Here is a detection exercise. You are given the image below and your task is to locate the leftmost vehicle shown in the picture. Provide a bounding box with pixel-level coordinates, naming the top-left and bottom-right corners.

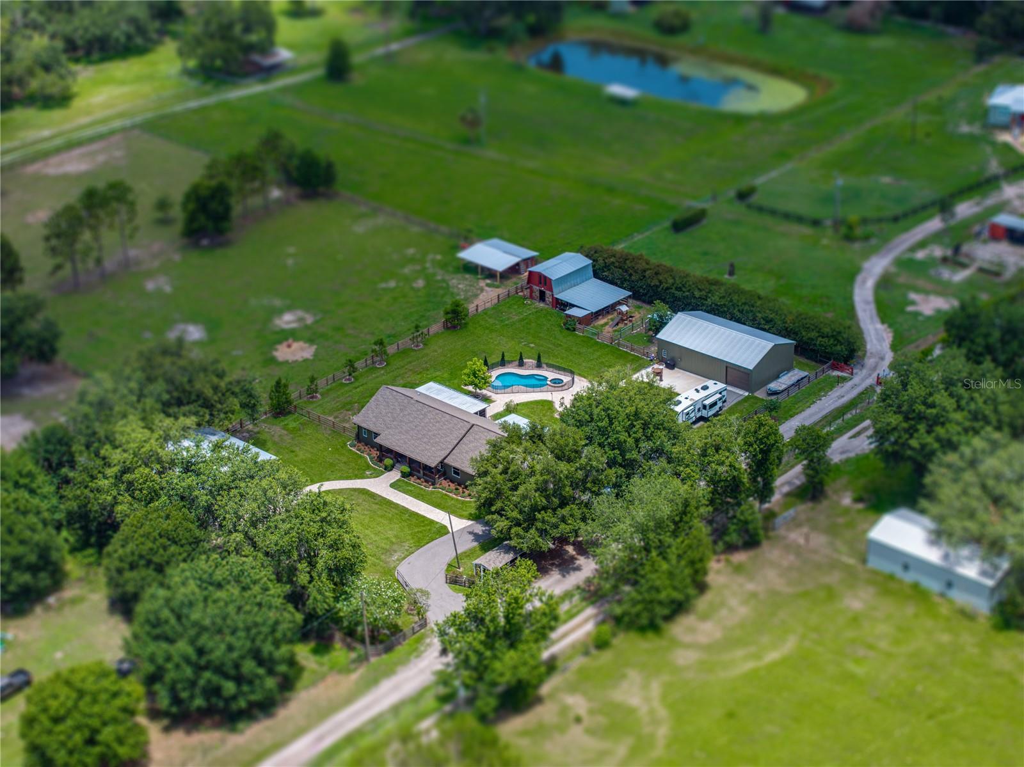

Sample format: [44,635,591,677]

[0,675,31,699]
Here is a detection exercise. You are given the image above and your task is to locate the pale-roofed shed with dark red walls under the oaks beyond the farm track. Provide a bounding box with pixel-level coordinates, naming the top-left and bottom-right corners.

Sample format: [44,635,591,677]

[245,52,300,75]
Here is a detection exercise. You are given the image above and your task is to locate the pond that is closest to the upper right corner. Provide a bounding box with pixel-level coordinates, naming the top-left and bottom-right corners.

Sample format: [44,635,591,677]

[534,39,756,108]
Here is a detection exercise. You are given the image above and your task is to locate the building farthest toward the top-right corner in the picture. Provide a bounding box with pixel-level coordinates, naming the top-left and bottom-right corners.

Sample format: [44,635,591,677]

[987,96,1024,133]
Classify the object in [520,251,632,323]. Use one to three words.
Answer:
barn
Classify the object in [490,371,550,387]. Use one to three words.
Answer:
swimming pool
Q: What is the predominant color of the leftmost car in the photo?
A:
black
